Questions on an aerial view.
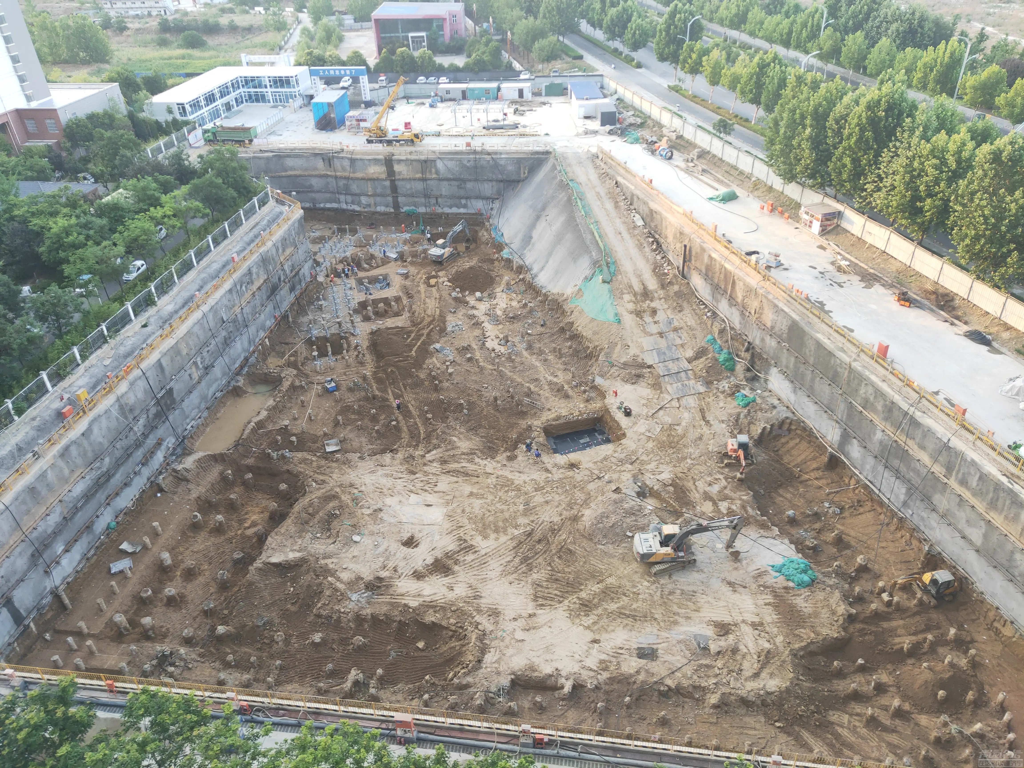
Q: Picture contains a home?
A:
Yes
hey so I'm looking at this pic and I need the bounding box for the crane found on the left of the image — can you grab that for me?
[365,77,425,141]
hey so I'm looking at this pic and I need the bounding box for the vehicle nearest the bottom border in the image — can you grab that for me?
[890,565,975,616]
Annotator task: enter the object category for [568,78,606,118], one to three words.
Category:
house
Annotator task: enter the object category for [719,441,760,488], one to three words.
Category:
work vehicle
